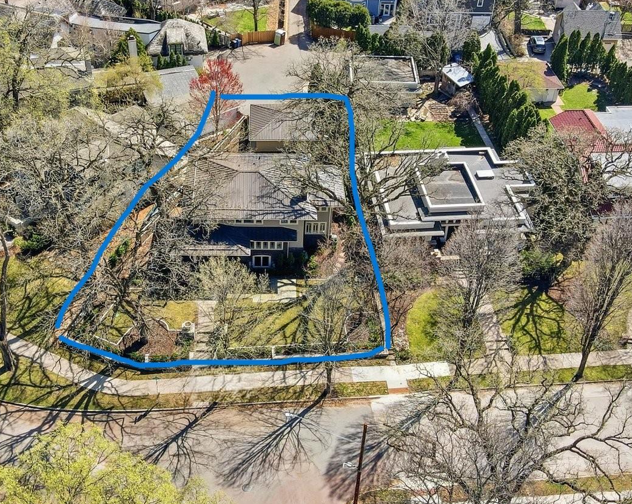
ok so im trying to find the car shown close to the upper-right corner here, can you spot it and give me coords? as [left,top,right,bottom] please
[526,38,550,51]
